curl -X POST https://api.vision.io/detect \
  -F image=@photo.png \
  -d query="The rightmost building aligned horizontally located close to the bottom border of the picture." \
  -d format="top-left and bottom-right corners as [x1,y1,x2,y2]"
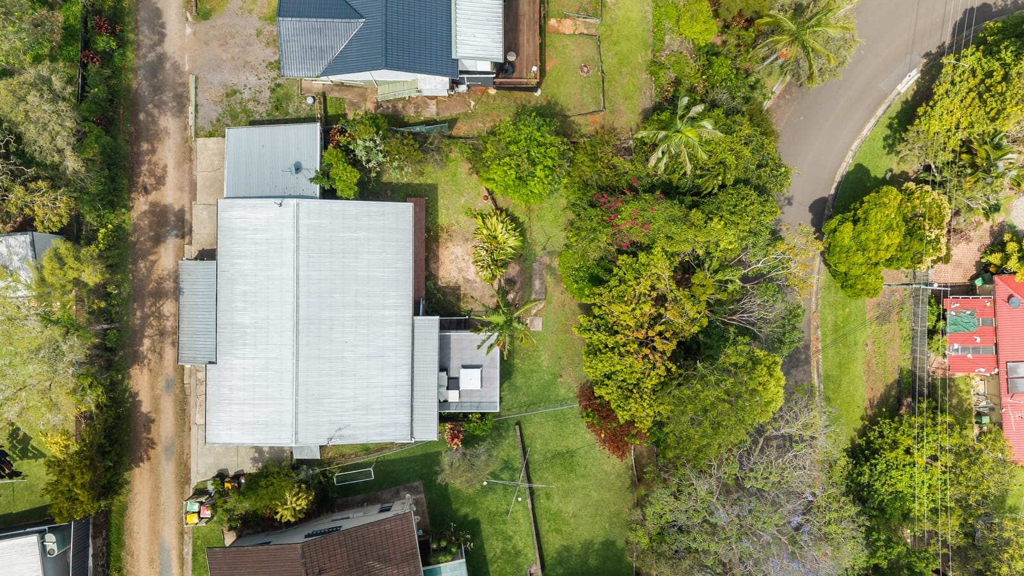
[204,487,425,576]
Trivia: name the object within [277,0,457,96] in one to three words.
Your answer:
house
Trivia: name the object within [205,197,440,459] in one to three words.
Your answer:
house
